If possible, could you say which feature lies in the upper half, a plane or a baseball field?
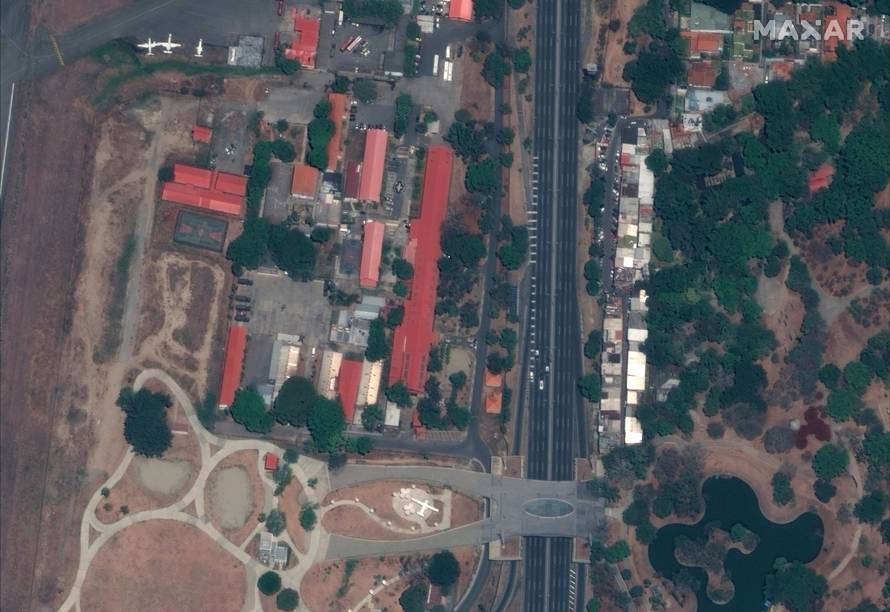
plane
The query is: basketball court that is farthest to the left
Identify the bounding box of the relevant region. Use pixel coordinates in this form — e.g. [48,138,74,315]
[174,208,229,252]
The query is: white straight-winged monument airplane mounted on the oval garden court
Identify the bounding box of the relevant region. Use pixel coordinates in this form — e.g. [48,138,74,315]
[410,498,440,515]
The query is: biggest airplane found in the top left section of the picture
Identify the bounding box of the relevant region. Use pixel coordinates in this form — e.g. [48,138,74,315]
[156,34,181,52]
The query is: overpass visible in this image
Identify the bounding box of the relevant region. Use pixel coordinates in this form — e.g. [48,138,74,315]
[471,457,606,562]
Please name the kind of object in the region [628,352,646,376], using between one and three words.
building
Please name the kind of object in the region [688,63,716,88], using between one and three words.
house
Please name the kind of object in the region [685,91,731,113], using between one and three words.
house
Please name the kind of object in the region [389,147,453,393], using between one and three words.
building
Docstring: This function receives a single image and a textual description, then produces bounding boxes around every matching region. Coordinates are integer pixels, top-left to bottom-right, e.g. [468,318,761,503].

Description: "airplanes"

[196,39,203,56]
[156,34,181,52]
[410,498,440,515]
[140,38,159,53]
